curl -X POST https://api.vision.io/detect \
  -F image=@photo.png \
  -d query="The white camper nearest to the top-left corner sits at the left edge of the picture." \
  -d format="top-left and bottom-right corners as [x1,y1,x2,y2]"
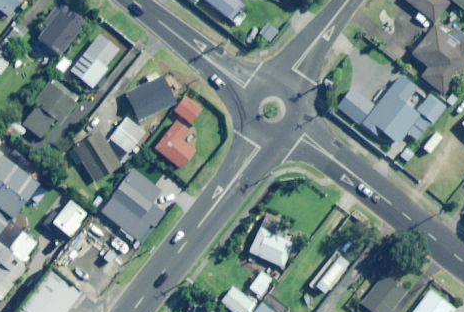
[10,122,26,136]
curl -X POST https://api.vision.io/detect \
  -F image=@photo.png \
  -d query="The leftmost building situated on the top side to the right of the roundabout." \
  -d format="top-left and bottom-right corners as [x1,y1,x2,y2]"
[338,88,374,124]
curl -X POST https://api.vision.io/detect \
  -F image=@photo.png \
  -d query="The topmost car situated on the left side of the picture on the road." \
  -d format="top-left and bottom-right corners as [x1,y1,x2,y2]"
[128,4,144,18]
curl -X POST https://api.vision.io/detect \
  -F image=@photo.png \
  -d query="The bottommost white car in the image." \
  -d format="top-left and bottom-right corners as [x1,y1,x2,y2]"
[170,230,184,245]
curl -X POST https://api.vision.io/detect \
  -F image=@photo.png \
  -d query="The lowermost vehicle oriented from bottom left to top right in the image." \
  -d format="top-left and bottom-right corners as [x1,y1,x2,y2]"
[153,272,168,288]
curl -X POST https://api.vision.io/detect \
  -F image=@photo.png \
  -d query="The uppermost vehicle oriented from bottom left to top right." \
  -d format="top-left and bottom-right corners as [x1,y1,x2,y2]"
[246,26,259,42]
